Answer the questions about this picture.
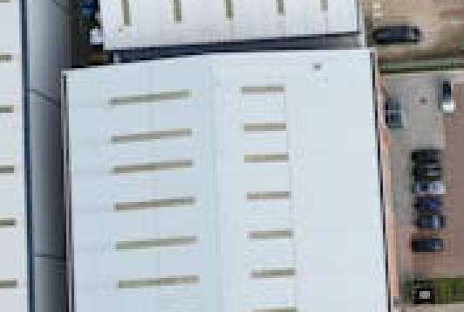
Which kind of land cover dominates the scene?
buildings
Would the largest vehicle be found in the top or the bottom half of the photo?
top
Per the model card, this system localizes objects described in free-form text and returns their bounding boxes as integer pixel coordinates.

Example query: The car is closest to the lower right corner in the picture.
[411,237,444,252]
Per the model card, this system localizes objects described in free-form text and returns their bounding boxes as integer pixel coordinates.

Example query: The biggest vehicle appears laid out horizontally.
[375,24,417,44]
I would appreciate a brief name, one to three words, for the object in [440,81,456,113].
car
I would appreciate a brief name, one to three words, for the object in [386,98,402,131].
car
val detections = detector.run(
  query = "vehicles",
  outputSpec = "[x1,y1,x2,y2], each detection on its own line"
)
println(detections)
[411,149,442,164]
[415,180,446,194]
[415,214,446,228]
[411,237,444,252]
[386,98,402,131]
[411,164,442,179]
[413,196,443,211]
[440,81,456,113]
[375,24,417,44]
